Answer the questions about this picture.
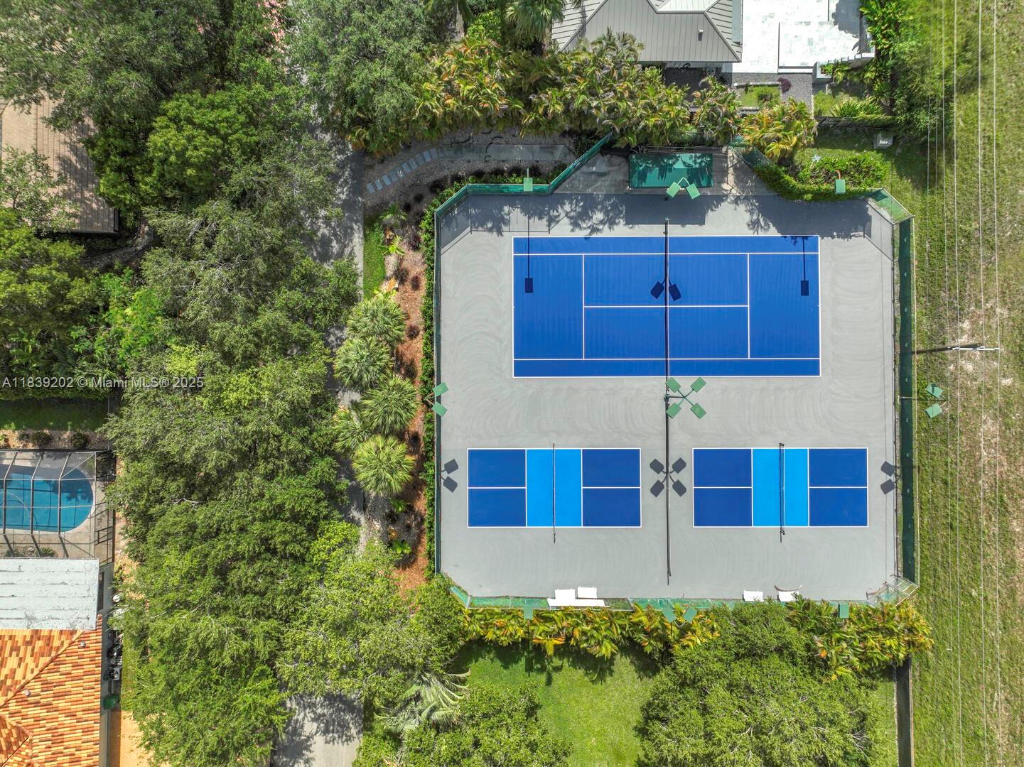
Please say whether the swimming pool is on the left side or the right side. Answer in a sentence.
You can find the swimming pool on the left side of the picture.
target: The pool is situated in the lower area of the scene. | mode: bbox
[0,460,98,535]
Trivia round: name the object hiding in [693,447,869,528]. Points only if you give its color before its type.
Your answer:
blue sports court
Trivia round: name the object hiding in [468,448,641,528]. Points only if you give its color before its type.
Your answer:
blue sports court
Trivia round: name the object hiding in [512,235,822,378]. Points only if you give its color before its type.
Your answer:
blue tennis court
